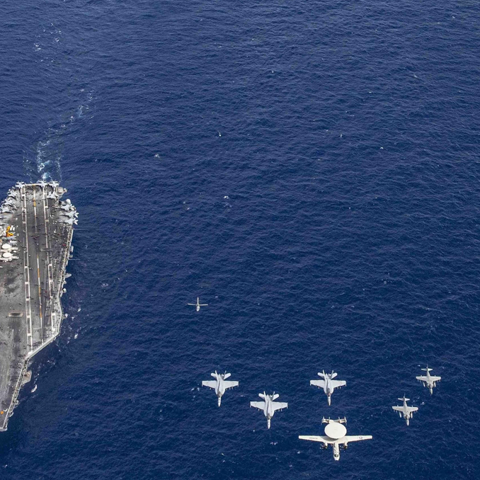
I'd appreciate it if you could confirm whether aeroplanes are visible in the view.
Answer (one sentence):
Yes, there's an aeroplane here.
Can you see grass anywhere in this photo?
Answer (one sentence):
No, there's no grass in this view.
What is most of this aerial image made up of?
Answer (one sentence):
What you mostly see from above here is water.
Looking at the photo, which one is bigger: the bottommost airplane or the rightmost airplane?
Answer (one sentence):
The bottommost airplane covers a greater area than the rightmost airplane.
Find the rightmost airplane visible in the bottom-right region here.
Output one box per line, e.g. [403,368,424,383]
[416,362,440,392]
